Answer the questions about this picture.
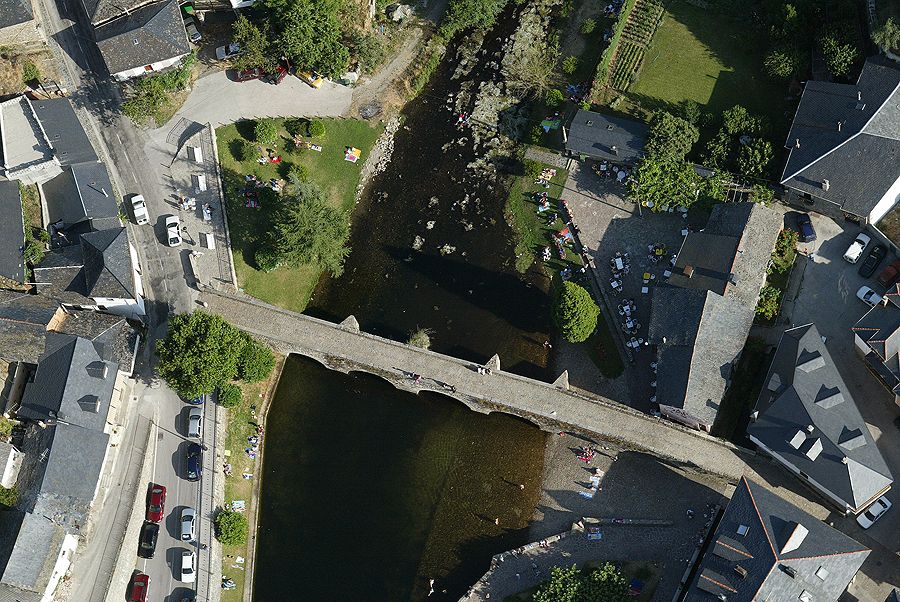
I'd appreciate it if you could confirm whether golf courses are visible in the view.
No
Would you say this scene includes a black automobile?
Yes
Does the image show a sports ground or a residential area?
residential area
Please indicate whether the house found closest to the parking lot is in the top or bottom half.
top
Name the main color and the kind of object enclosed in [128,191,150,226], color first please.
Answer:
white car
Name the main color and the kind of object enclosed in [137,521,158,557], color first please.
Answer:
black car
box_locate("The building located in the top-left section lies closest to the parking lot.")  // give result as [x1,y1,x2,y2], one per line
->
[93,0,198,84]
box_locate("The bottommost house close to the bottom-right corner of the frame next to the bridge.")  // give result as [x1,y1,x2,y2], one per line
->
[664,476,872,602]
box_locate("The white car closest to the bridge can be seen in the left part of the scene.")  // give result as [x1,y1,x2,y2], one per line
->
[162,212,183,247]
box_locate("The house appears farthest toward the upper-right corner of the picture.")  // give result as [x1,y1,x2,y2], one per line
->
[780,58,900,234]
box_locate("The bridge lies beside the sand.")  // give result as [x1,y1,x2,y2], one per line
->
[197,286,734,485]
